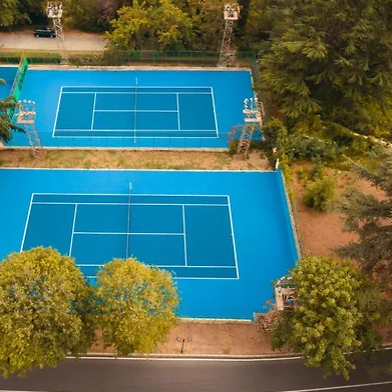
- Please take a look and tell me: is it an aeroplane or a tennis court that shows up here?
tennis court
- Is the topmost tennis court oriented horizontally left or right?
left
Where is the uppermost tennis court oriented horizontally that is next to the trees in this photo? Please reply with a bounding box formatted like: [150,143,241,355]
[4,68,265,149]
